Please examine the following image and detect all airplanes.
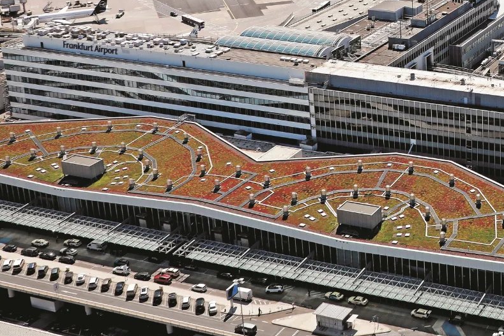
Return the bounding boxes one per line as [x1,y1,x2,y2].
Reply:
[189,20,212,42]
[14,0,110,23]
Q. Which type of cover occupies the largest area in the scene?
buildings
